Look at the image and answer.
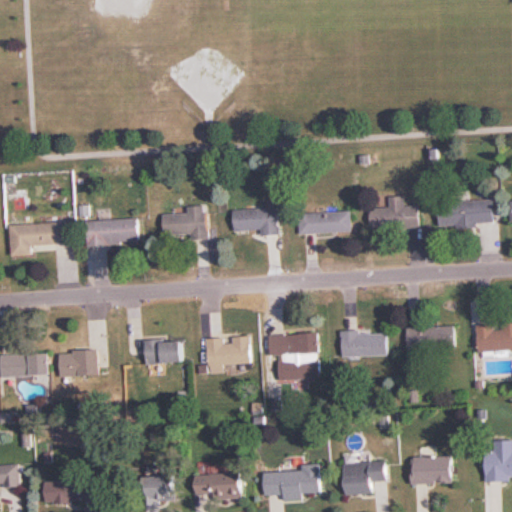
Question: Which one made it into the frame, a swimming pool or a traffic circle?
swimming pool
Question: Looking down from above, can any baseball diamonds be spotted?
Yes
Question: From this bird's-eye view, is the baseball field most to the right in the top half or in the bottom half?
top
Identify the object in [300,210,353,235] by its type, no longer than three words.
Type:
house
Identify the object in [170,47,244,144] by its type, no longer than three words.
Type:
baseball field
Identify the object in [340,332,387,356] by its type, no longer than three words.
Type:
house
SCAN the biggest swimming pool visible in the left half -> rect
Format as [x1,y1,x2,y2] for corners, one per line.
[18,380,46,402]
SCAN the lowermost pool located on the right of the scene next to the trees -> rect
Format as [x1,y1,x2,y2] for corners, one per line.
[346,432,364,458]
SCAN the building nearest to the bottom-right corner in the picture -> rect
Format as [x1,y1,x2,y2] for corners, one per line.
[483,440,512,484]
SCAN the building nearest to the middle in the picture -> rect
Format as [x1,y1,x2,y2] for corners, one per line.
[232,208,280,236]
